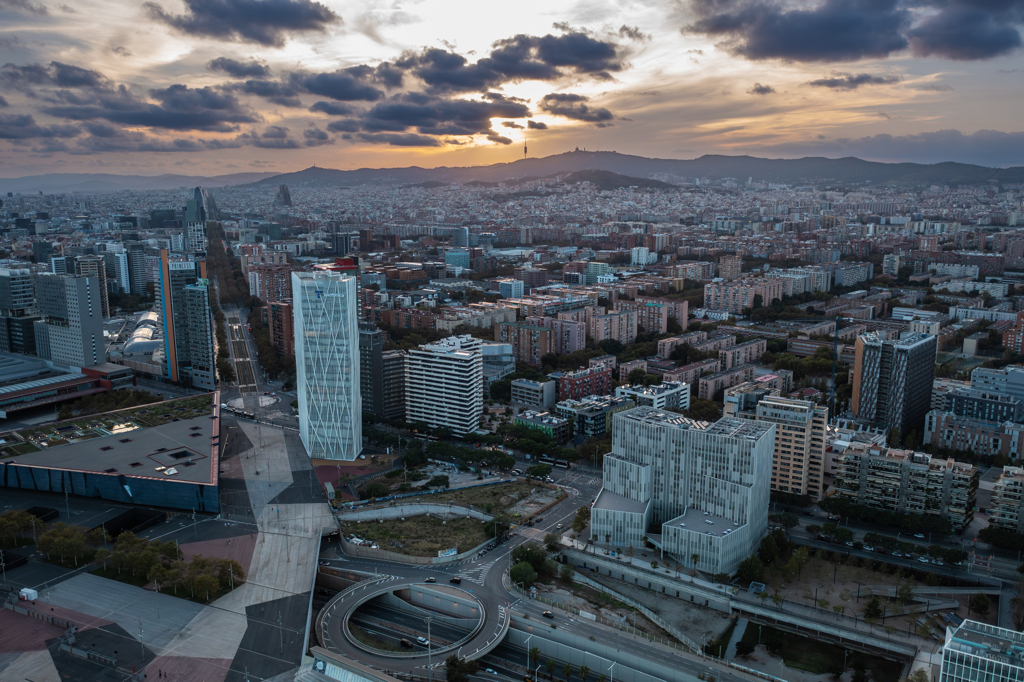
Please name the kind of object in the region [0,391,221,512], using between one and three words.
building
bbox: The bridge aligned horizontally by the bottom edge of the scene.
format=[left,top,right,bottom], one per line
[730,582,936,656]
